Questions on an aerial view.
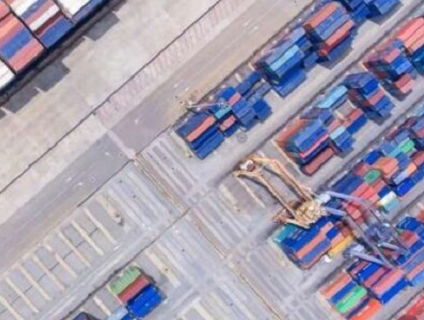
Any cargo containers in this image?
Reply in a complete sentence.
Yes, a cargo container can be made out from above.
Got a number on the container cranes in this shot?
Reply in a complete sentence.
Looking from above, you can make out 2 container cranes.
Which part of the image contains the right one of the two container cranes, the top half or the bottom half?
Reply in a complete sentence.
The right one of the two container cranes is in the bottom half of the image.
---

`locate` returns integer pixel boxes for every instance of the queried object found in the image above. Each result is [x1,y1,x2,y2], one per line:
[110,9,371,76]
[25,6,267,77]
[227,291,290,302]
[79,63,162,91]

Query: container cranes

[232,154,326,235]
[316,189,415,271]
